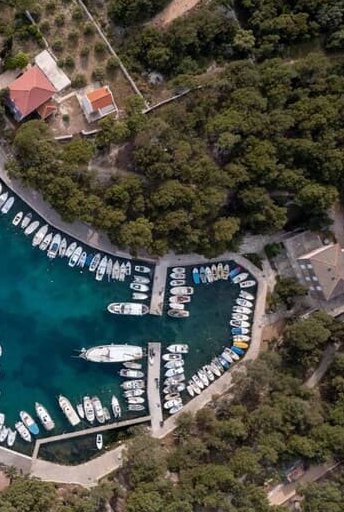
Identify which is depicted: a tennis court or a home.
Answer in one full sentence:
Looking from above, you can make out a home.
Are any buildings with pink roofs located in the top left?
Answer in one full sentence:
Yes, a building with a pink roof appears in the top left.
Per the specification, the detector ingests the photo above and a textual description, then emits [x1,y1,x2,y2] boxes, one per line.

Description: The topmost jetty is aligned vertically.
[150,263,167,315]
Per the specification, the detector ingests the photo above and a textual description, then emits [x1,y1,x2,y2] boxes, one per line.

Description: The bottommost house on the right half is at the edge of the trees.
[266,483,296,504]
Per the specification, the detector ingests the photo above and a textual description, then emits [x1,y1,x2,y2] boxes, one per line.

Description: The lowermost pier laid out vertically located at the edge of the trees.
[146,342,164,438]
